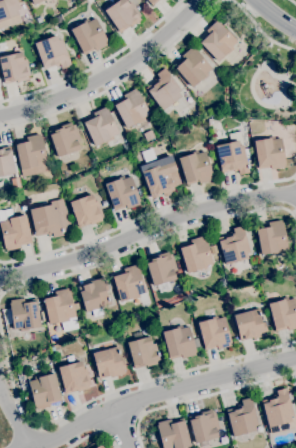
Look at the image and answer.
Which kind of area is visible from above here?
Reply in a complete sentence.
This looks like a residential area.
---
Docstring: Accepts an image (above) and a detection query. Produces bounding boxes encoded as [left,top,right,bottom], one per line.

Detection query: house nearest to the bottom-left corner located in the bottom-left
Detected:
[30,372,62,409]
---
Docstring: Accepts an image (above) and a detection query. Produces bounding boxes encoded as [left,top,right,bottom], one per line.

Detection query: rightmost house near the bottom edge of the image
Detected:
[264,391,296,432]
